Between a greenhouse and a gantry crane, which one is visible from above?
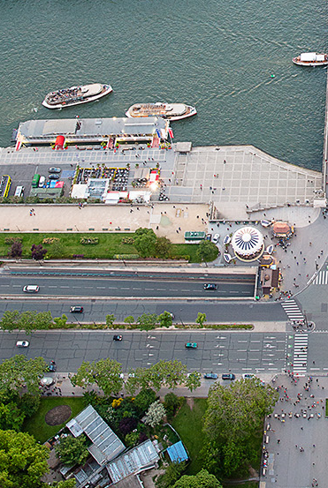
greenhouse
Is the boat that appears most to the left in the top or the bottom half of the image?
top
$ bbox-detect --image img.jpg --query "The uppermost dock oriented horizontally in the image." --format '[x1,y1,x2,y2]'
[19,126,170,141]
